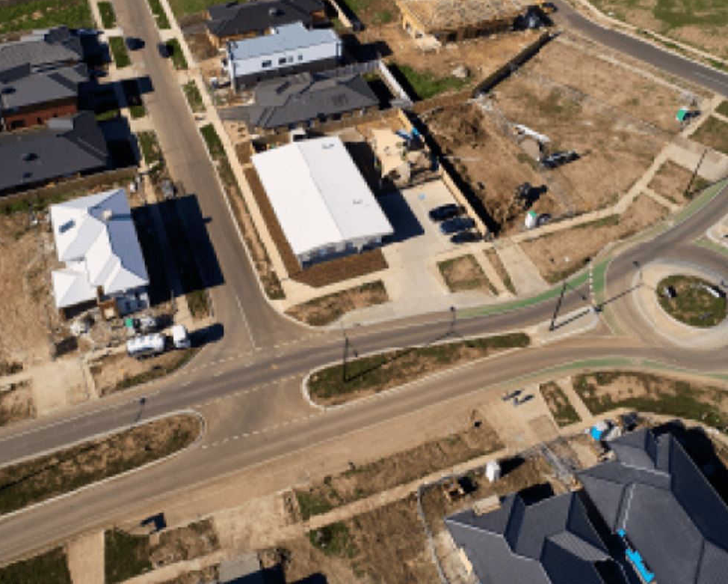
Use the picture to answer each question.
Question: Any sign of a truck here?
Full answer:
Yes, the photo shows a truck.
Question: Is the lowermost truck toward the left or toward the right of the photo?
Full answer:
The lowermost truck appears in the left half of the scene.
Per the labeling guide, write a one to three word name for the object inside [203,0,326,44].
house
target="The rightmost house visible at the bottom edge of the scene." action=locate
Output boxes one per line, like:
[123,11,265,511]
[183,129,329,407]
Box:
[575,431,728,584]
